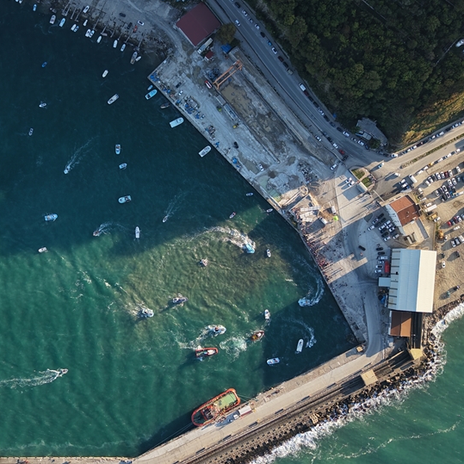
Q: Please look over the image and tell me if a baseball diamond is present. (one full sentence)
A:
No, the picture doesn't show any baseball diamond.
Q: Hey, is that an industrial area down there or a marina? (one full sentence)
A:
This looks like a marina.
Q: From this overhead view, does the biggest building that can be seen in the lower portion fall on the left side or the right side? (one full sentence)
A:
The biggest building that can be seen in the lower portion is on the right side of the image.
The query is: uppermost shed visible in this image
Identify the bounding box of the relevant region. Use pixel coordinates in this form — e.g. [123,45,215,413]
[175,2,219,49]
